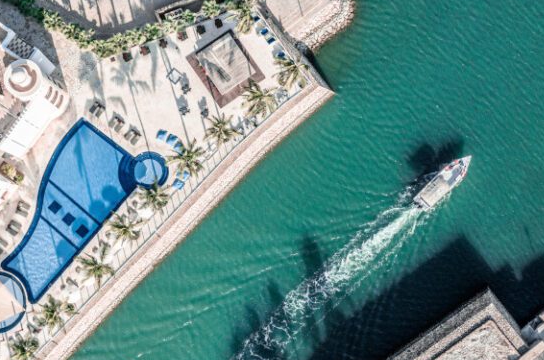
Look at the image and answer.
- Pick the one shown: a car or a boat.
boat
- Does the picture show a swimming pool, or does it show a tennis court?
swimming pool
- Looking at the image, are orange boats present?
No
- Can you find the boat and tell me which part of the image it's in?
right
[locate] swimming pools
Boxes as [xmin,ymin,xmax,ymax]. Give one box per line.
[0,268,27,331]
[2,119,137,305]
[133,152,168,187]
